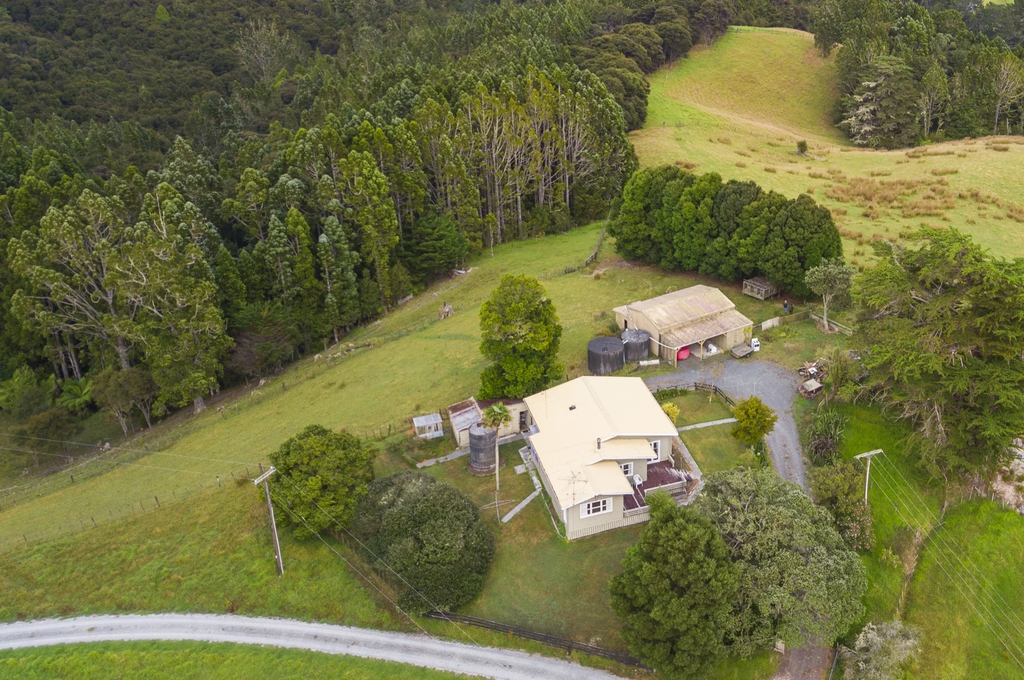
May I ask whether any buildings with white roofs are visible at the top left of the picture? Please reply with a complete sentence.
No, no building with a white roof is visible at the top left of the picture.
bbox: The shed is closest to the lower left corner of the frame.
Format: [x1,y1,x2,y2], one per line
[412,415,445,444]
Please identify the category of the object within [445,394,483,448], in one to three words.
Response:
shed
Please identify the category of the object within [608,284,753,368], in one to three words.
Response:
shed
